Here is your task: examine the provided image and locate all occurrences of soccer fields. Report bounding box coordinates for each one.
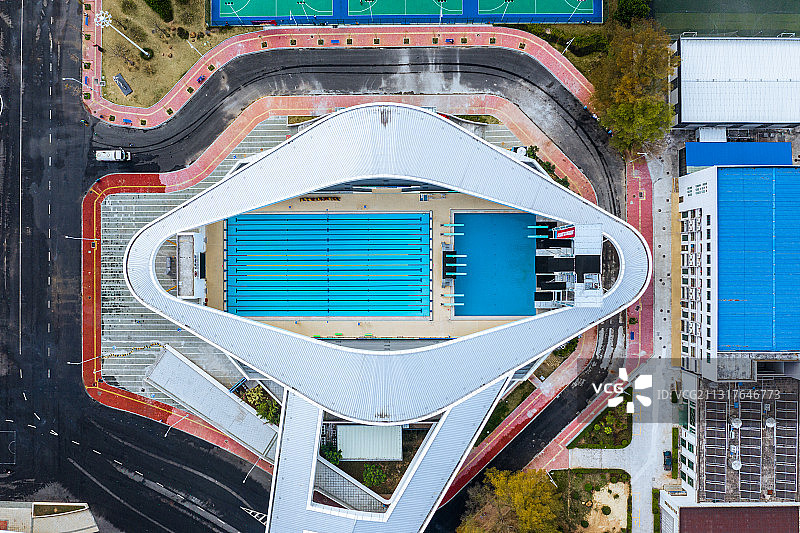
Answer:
[653,0,800,37]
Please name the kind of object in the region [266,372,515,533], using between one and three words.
building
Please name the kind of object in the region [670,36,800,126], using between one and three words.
building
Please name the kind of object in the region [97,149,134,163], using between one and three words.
vehicle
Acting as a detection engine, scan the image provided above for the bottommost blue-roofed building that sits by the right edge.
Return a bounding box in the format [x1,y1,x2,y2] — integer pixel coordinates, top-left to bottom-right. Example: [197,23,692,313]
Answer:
[677,166,800,385]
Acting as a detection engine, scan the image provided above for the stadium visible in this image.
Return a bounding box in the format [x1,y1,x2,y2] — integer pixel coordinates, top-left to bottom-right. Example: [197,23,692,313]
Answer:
[123,102,653,426]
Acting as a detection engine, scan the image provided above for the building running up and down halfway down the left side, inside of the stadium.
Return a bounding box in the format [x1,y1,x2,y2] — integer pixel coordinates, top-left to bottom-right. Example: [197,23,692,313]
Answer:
[177,228,208,302]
